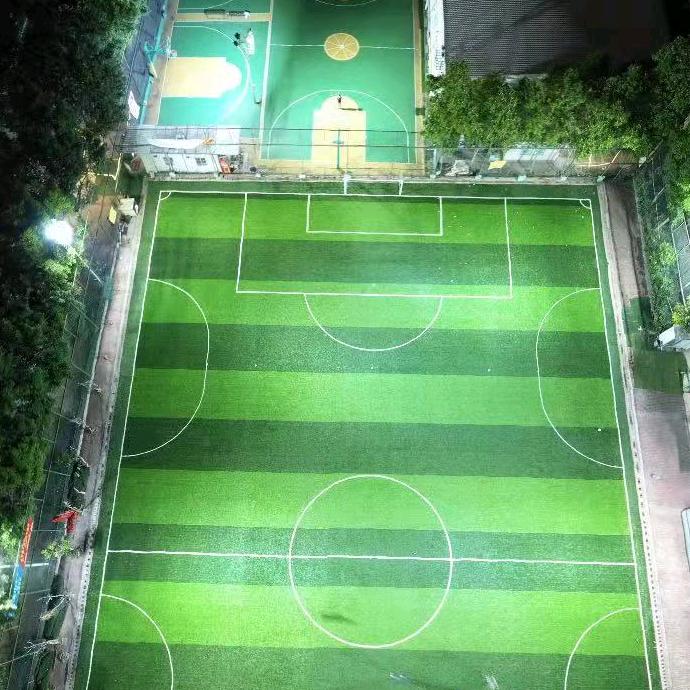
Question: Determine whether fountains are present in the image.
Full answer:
No, there's no fountain here.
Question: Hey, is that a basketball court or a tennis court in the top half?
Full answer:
It is a basketball court that can be seen in the top half.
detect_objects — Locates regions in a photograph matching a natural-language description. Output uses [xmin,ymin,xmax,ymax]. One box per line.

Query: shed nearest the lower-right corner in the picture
[653,325,690,366]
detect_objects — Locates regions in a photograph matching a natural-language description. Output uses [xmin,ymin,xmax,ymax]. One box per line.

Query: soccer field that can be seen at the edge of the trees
[70,177,665,690]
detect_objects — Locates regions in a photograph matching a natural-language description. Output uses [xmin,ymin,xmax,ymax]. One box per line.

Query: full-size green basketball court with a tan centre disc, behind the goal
[257,0,429,172]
